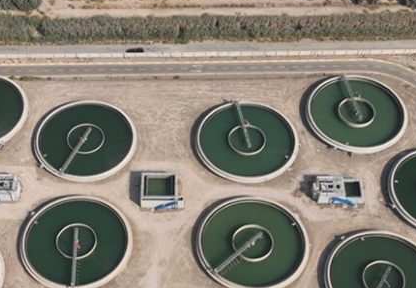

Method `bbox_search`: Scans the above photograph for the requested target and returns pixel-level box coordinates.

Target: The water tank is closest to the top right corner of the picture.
[307,73,406,156]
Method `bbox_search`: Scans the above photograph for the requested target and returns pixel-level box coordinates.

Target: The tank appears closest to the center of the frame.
[198,99,301,183]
